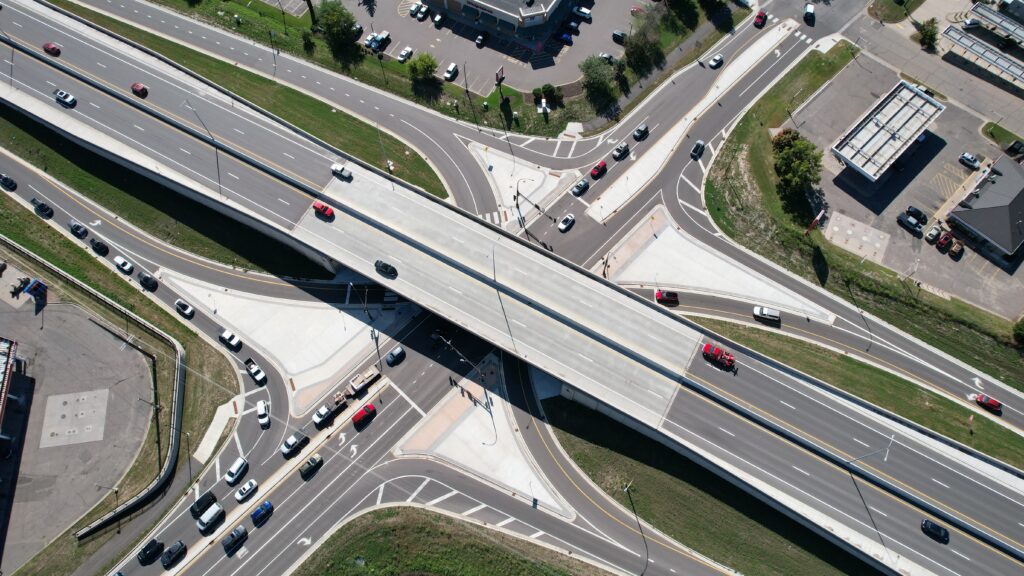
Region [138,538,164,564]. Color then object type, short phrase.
black car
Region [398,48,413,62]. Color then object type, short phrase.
white car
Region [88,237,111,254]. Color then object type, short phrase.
black vehicle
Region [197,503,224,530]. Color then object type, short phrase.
white vehicle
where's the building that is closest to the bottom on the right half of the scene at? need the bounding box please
[945,155,1024,258]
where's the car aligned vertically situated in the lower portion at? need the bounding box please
[257,401,269,426]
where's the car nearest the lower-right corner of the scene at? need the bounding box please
[919,518,950,543]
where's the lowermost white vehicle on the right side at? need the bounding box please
[753,308,782,321]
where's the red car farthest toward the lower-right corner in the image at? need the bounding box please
[974,394,1002,412]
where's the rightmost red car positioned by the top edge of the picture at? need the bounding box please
[755,12,767,26]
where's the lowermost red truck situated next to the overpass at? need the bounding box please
[701,342,743,368]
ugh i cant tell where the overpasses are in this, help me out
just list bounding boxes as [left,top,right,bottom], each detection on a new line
[284,156,706,433]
